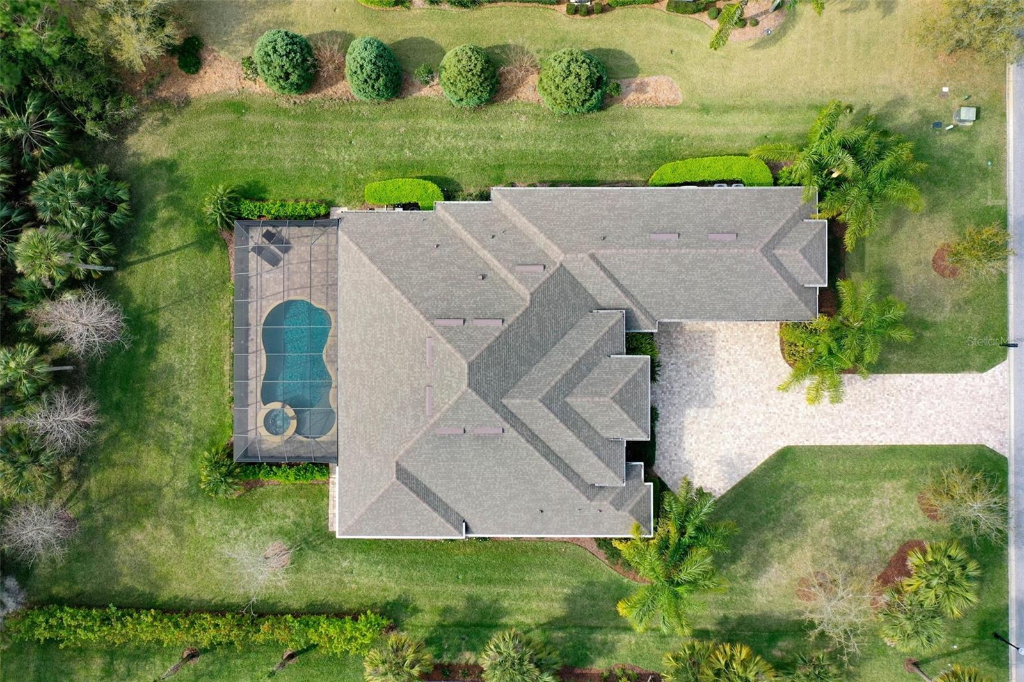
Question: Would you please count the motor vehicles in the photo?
none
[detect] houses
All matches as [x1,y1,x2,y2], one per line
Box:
[334,185,829,540]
